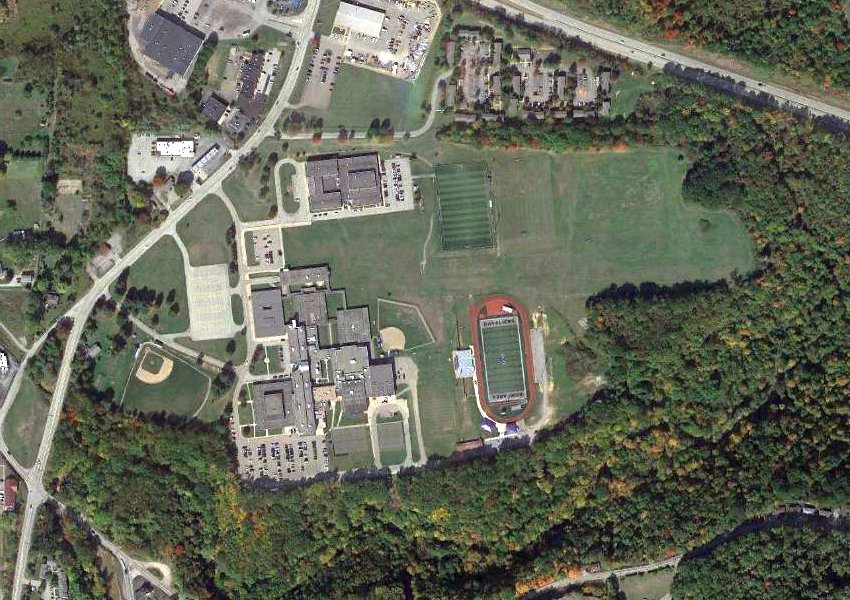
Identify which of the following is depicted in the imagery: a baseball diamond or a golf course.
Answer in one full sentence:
The one in the frame is a baseball diamond.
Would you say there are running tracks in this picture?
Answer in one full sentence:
Yes, a running track is visible in the scene.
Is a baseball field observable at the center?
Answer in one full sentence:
Yes, looking at the center, one can make out a baseball field.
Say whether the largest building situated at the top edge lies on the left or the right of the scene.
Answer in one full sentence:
It is on the left.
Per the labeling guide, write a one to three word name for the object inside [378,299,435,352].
baseball field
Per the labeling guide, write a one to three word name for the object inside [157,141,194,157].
building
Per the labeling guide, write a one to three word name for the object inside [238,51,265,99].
building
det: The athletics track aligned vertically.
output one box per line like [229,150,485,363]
[471,295,534,422]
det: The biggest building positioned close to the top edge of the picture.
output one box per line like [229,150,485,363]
[140,12,204,77]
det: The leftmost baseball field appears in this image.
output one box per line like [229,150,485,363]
[120,341,212,417]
